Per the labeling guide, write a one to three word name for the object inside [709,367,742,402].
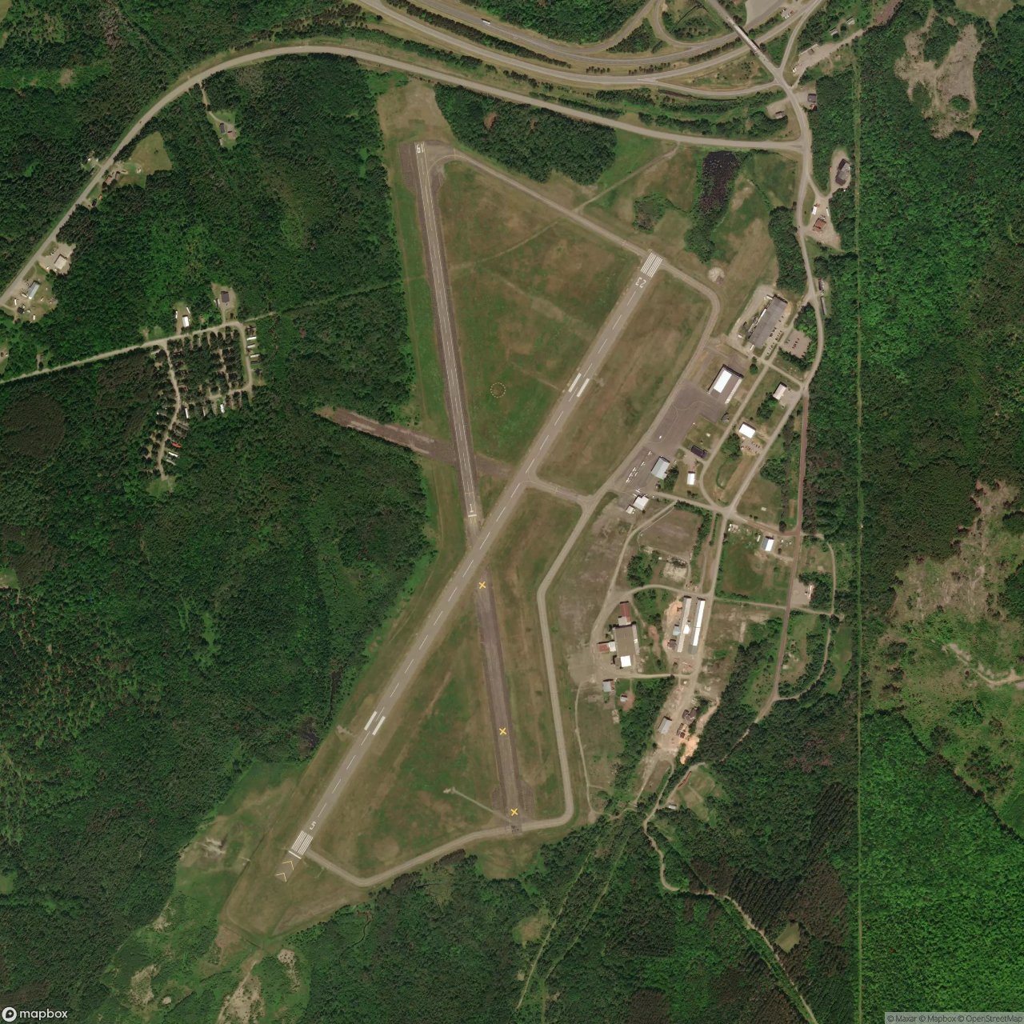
hangar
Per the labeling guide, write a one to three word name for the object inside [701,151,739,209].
pond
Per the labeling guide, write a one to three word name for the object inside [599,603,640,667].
building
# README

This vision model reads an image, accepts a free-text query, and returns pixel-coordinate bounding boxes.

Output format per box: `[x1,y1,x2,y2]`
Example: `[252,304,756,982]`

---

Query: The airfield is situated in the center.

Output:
[272,141,749,887]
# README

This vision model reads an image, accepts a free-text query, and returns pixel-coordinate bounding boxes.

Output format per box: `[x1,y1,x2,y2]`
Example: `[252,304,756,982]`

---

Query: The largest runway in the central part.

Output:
[272,246,668,886]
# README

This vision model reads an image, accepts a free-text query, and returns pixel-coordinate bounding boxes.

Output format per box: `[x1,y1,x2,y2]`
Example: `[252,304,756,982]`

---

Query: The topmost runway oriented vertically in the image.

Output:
[400,141,481,546]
